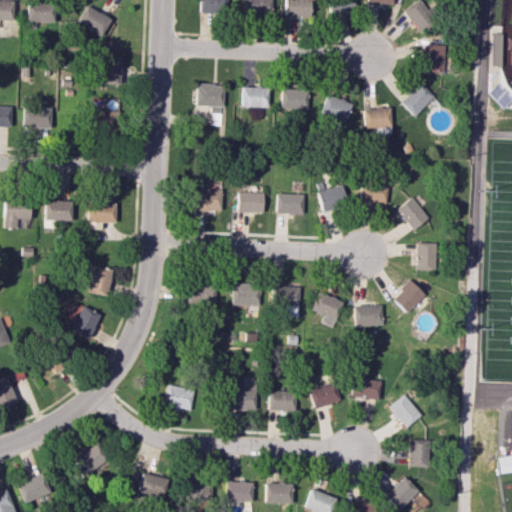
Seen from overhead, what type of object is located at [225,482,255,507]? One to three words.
house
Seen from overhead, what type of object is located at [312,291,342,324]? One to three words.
house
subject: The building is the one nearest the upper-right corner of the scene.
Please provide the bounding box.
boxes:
[492,32,504,72]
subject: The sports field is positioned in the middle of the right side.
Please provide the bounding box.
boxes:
[482,142,512,381]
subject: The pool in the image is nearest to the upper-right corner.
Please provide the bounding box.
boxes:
[426,106,456,136]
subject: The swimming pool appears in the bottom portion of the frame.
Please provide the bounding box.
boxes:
[412,308,440,341]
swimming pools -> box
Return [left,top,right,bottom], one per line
[412,308,440,341]
[106,98,119,111]
[426,106,456,136]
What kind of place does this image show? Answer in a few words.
residential area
